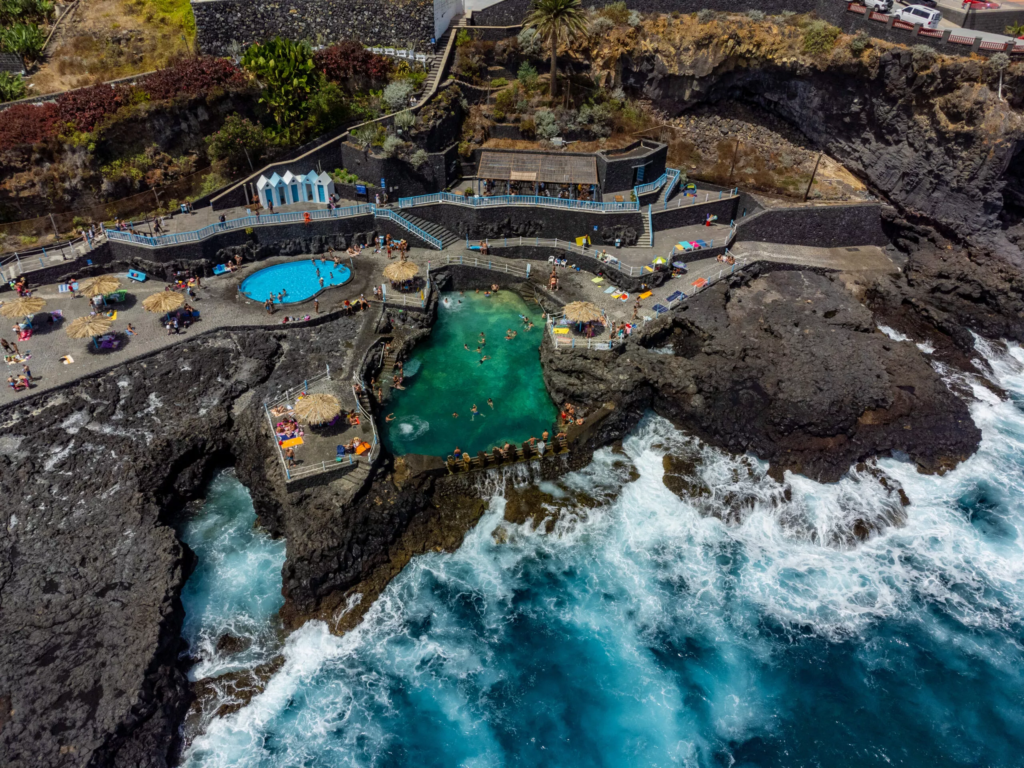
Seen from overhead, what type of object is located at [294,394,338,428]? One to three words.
umbrella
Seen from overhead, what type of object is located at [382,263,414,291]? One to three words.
umbrella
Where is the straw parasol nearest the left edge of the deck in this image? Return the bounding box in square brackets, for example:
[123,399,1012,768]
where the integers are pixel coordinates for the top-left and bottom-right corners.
[2,299,42,330]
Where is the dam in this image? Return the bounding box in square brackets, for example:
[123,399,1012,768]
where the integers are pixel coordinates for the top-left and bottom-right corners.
[443,437,569,481]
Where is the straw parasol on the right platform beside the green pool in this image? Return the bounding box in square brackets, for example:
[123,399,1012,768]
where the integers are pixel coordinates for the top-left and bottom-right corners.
[562,302,600,333]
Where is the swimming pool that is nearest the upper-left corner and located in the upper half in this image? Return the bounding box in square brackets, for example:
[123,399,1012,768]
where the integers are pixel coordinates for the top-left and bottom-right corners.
[238,258,354,306]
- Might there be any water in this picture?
Yes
